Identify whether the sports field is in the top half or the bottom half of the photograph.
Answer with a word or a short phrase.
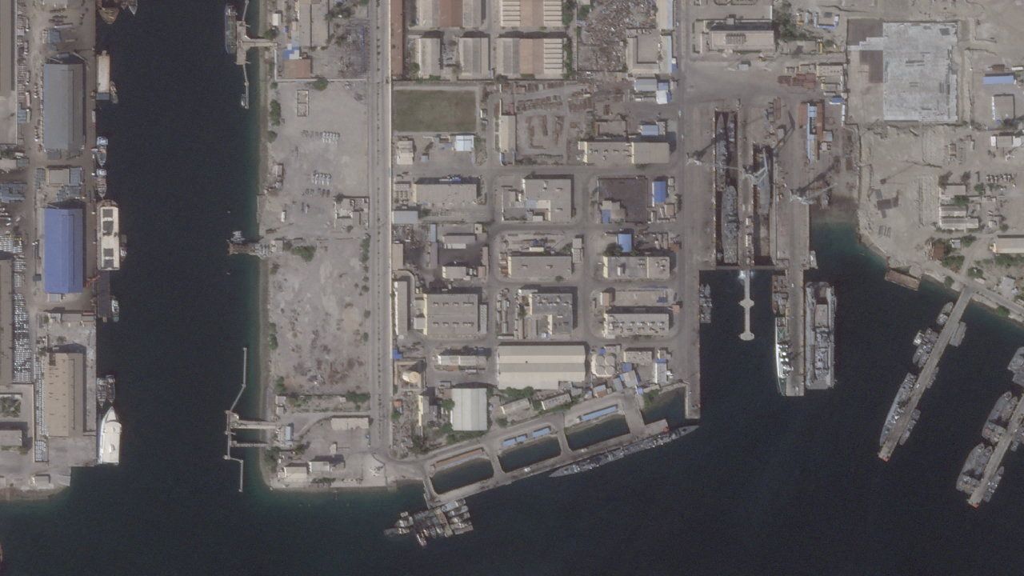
top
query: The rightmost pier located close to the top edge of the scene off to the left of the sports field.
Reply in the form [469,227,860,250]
[234,0,277,109]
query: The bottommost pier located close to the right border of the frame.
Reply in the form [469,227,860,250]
[969,393,1024,508]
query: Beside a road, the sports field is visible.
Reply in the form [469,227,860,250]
[394,86,480,134]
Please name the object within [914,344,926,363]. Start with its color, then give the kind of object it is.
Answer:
gray boat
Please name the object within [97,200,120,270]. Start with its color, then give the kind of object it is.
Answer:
white ship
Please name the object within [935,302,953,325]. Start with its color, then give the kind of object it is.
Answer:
gray ship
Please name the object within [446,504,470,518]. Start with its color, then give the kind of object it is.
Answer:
gray boat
